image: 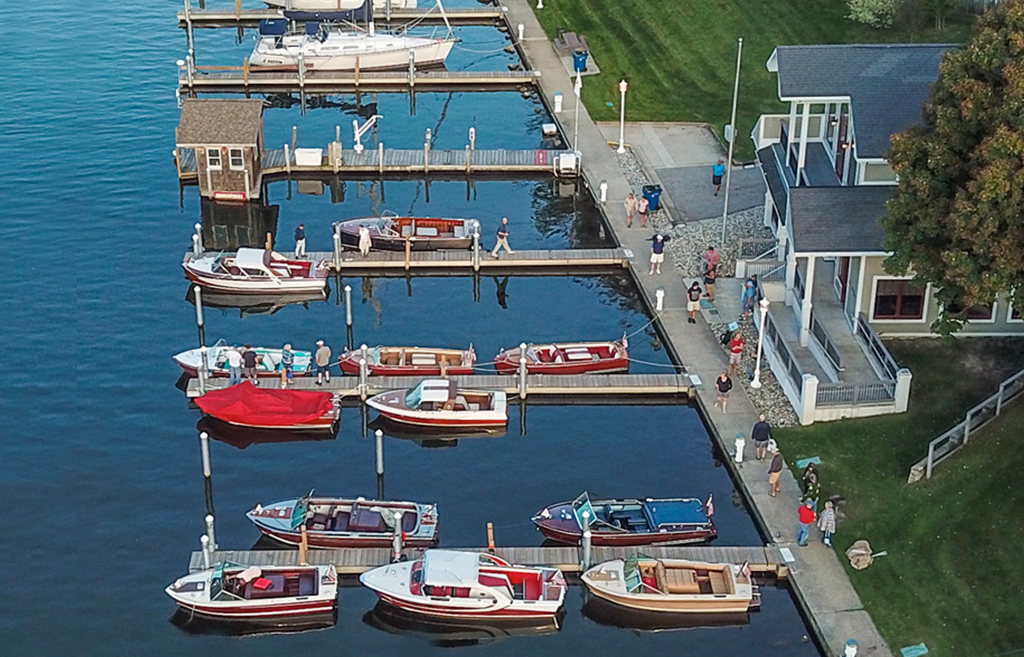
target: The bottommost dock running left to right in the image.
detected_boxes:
[186,546,779,579]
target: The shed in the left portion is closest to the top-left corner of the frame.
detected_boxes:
[173,99,269,198]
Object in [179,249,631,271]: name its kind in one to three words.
pier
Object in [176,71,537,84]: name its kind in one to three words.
pier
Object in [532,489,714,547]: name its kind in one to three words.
boat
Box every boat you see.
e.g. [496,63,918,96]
[532,489,714,547]
[359,546,566,618]
[193,384,344,431]
[581,551,764,614]
[245,491,436,549]
[338,333,474,384]
[252,0,460,72]
[494,326,628,379]
[165,559,336,621]
[332,212,473,250]
[182,248,339,293]
[365,376,506,428]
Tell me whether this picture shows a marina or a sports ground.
marina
